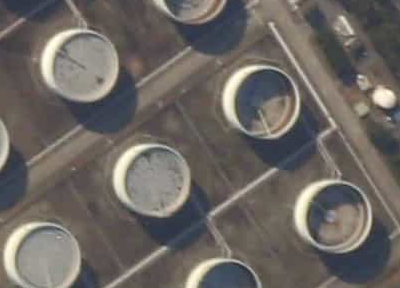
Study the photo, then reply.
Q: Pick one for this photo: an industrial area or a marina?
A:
industrial area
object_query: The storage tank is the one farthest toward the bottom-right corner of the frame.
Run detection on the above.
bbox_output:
[288,172,371,258]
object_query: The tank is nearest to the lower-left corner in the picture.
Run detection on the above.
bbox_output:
[0,212,80,288]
